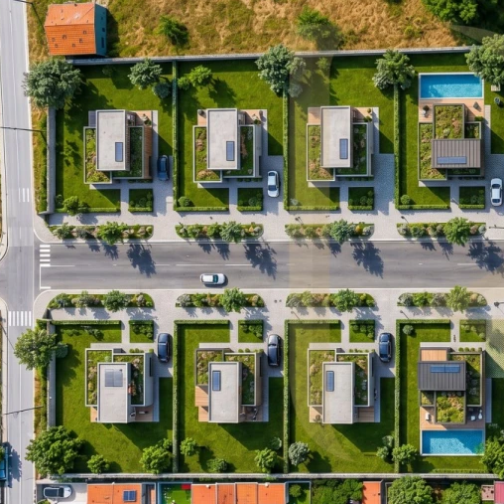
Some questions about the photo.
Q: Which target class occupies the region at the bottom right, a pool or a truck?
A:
pool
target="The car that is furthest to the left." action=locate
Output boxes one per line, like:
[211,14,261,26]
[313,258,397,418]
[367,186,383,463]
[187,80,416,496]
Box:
[42,485,72,499]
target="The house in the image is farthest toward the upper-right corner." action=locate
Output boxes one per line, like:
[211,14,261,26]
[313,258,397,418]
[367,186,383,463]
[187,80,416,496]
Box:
[419,100,486,181]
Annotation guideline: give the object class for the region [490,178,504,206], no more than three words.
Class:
vehicle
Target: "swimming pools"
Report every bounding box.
[419,72,484,100]
[421,429,485,456]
